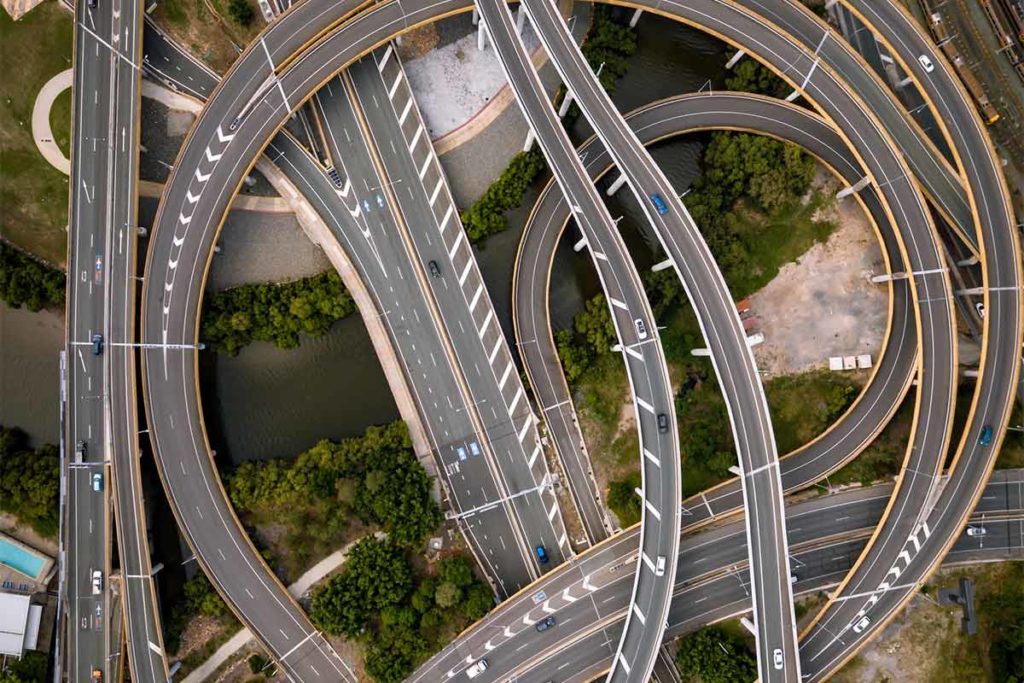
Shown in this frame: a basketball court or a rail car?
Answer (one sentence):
I can see a rail car in this picture.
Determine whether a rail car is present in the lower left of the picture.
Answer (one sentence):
No, no rail car can be made out in the lower left of the picture.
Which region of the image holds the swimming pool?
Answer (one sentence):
The swimming pool appears toward the bottom left of the photo.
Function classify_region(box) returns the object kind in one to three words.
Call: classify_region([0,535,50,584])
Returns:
swimming pool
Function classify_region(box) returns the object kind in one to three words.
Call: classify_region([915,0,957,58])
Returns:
rail car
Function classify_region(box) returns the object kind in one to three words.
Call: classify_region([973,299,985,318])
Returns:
vehicle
